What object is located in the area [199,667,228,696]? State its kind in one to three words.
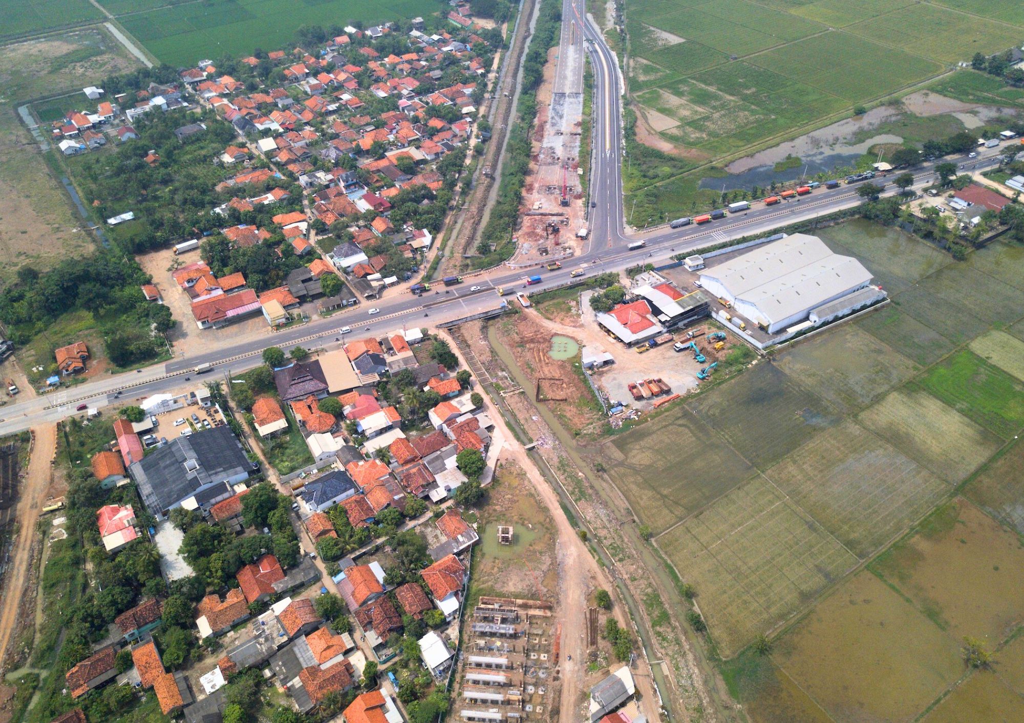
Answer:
shed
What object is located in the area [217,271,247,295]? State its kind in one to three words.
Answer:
house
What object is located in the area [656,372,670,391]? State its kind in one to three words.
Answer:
vehicle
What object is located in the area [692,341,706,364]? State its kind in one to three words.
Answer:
work vehicle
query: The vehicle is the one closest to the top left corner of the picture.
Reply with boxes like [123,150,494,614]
[170,237,201,253]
